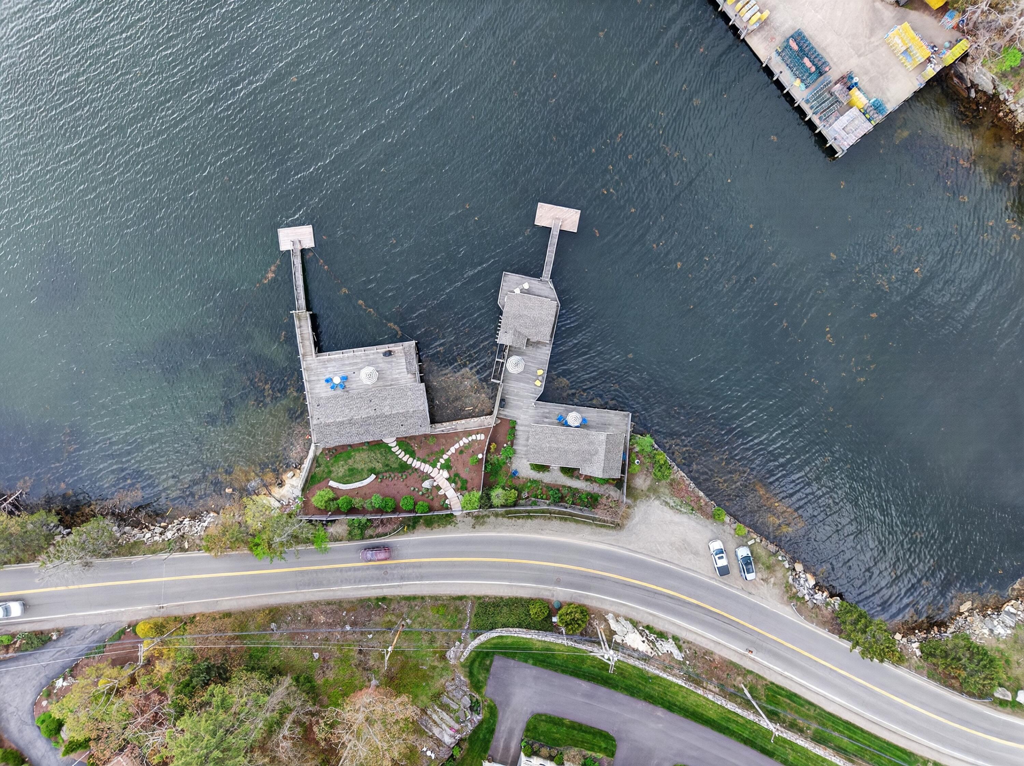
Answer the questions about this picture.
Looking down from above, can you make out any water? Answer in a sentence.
Yes, some water is visible.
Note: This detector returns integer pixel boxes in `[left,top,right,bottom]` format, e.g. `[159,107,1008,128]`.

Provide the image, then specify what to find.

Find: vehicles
[737,546,760,584]
[0,602,22,619]
[360,546,392,564]
[709,540,732,579]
